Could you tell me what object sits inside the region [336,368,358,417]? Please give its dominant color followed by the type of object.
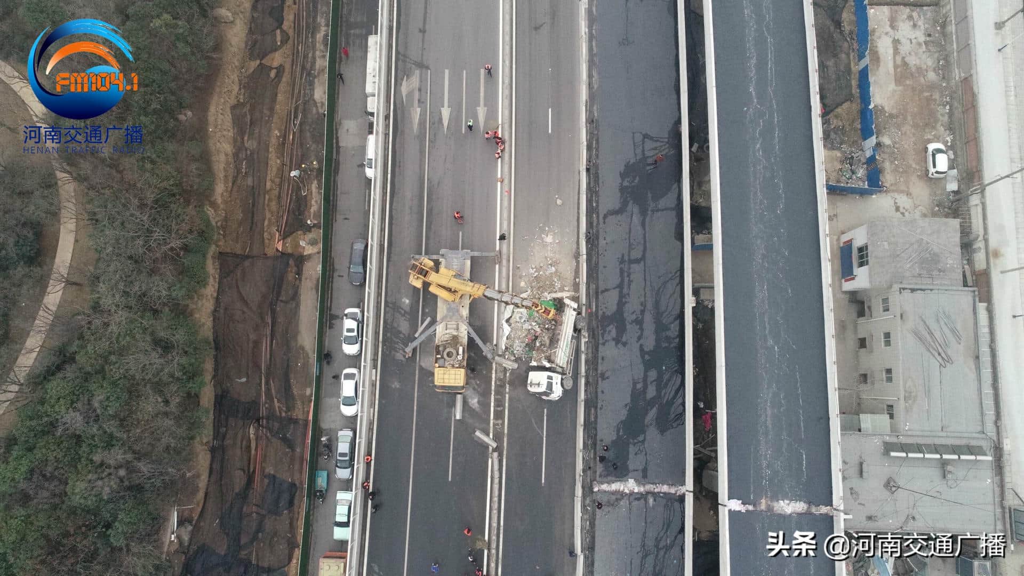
white car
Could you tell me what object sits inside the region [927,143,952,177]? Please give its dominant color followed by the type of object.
white car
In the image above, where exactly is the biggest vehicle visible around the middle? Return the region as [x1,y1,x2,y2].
[523,293,580,404]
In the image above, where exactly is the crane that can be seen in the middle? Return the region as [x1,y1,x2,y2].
[405,249,560,393]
